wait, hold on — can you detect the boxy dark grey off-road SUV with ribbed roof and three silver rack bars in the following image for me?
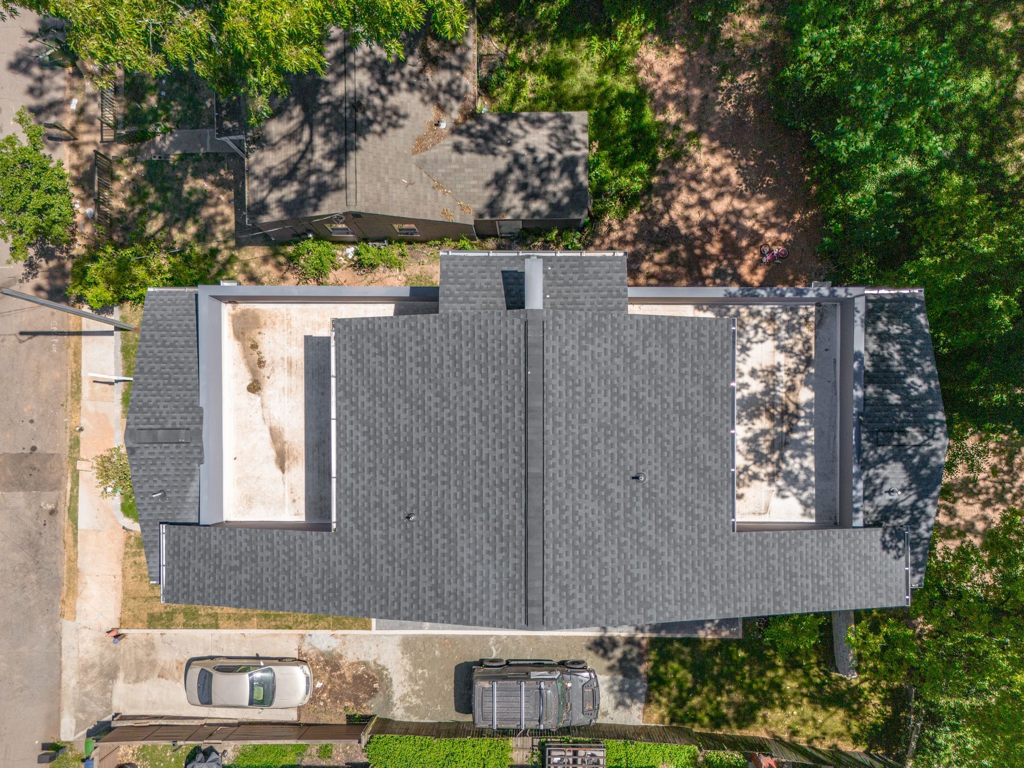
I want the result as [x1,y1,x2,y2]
[471,656,601,731]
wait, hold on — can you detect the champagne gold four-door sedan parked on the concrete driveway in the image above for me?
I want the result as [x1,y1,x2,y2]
[184,656,316,716]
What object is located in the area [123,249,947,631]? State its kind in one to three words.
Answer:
house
